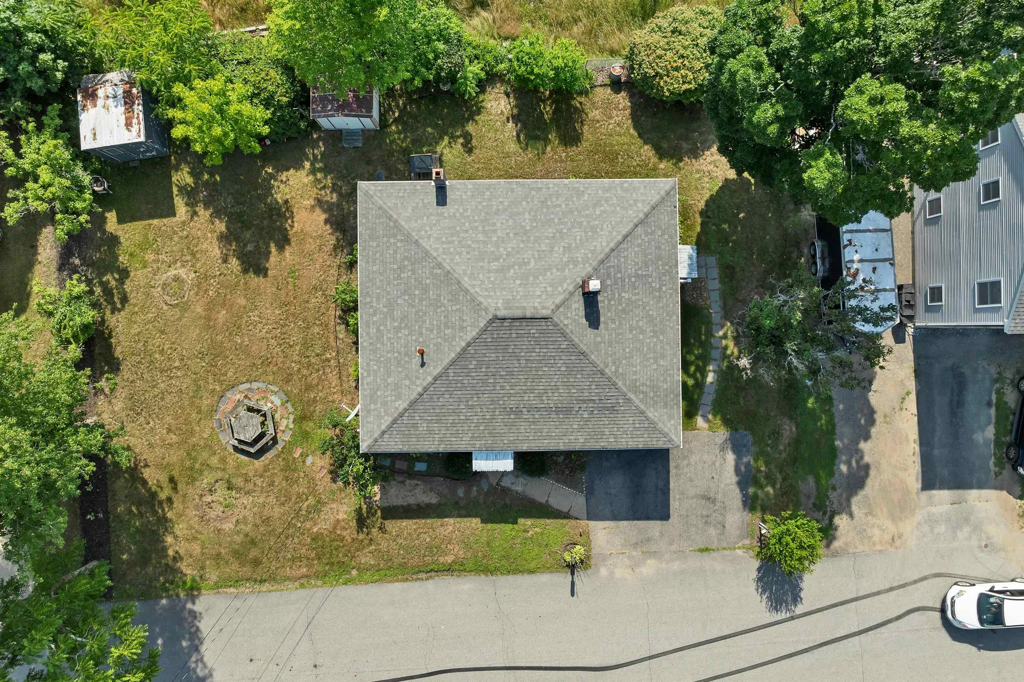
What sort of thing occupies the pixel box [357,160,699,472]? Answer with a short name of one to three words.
house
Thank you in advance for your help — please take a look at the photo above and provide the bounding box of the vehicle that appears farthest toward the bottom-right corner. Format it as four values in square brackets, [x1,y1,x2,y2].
[943,576,1024,637]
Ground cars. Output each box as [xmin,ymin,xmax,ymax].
[943,576,1024,637]
[1003,371,1024,476]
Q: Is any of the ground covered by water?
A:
No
